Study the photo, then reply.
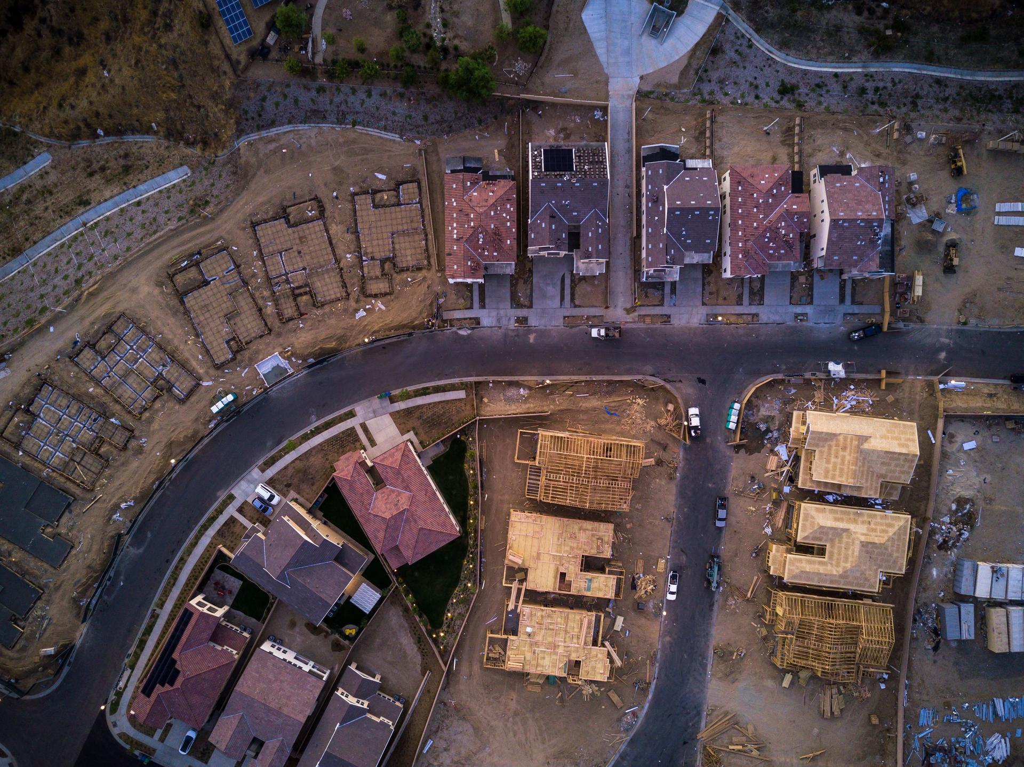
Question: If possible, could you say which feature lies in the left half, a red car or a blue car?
blue car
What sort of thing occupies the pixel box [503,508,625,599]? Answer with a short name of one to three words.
house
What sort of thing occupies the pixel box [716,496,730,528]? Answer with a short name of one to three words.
vehicle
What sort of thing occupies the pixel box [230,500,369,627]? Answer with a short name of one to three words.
house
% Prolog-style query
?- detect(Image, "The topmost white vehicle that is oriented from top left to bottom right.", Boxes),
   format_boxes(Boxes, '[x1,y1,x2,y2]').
[254,482,280,506]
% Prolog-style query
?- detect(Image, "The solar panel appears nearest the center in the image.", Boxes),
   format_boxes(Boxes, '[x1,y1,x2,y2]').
[543,148,574,170]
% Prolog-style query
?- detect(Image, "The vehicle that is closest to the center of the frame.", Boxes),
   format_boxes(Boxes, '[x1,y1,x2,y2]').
[591,326,623,341]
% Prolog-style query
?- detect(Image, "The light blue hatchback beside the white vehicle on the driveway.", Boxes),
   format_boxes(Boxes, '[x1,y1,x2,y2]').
[249,497,273,517]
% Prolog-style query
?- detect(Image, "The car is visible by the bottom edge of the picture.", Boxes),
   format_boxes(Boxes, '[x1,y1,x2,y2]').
[176,731,196,759]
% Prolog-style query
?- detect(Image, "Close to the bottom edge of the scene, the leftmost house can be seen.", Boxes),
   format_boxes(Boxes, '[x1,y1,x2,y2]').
[130,593,255,730]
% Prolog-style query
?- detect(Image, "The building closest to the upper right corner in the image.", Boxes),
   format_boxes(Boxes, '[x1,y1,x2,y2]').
[811,164,895,279]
